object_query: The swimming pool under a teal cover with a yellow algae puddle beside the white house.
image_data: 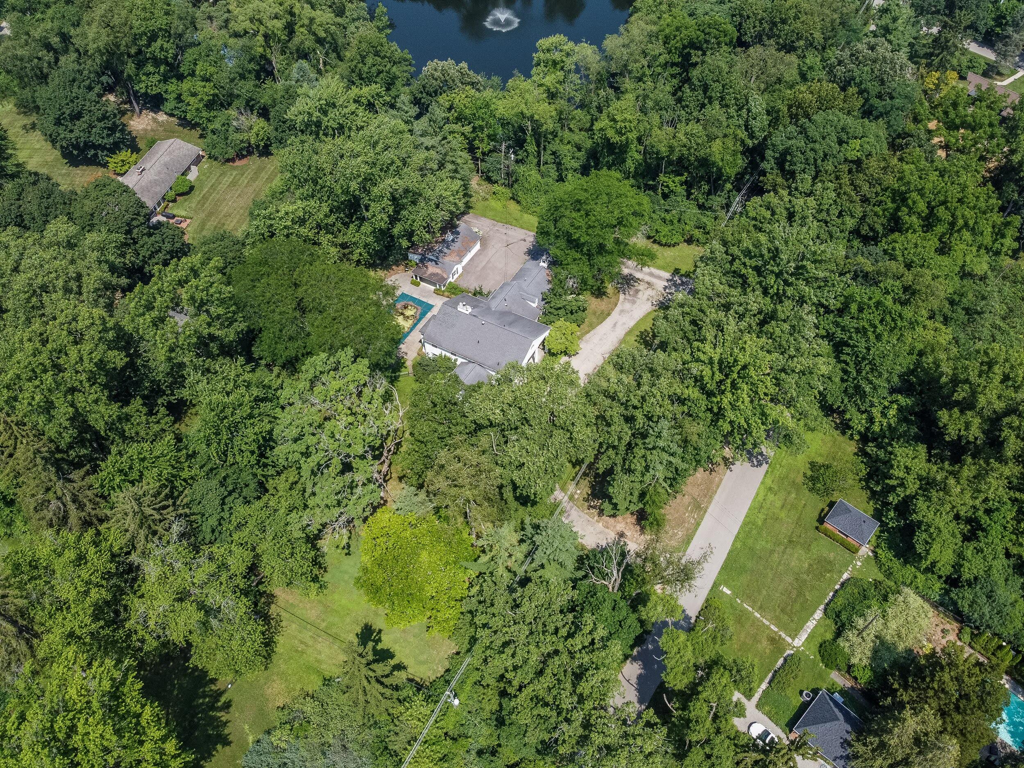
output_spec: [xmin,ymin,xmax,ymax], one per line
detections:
[368,292,434,346]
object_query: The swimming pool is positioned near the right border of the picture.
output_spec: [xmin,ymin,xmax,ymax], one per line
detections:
[982,684,1024,753]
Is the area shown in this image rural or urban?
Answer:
rural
